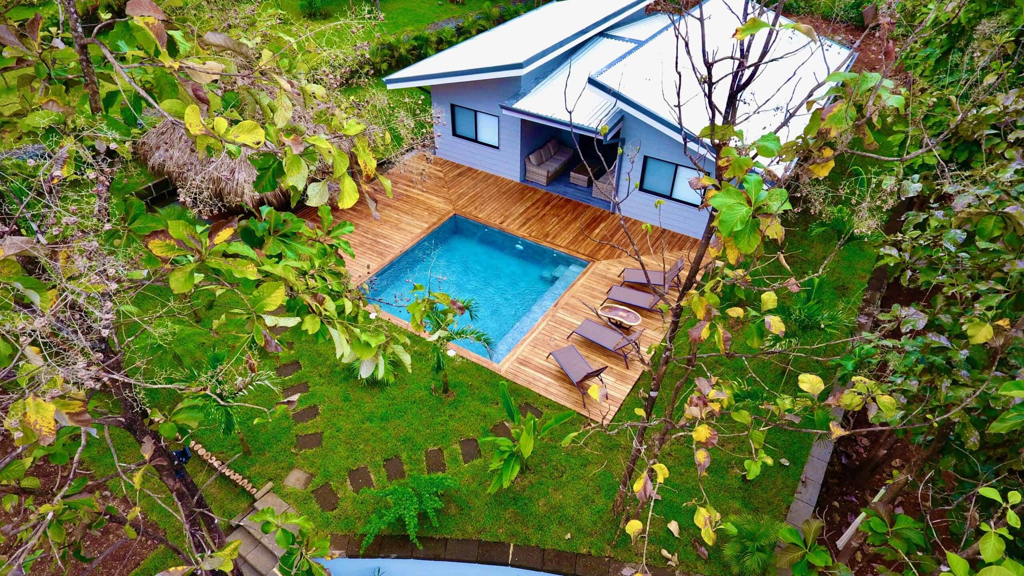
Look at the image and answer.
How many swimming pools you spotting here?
1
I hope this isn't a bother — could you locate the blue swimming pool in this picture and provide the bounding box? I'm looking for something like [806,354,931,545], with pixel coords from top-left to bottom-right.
[353,215,589,363]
